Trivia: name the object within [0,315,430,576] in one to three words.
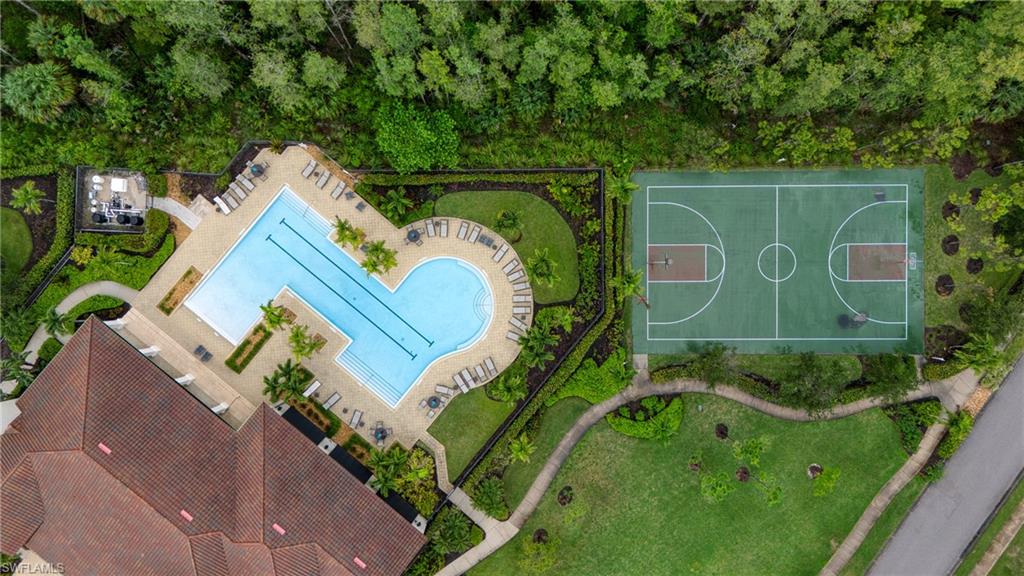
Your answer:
building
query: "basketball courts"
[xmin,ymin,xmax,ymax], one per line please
[632,169,925,355]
